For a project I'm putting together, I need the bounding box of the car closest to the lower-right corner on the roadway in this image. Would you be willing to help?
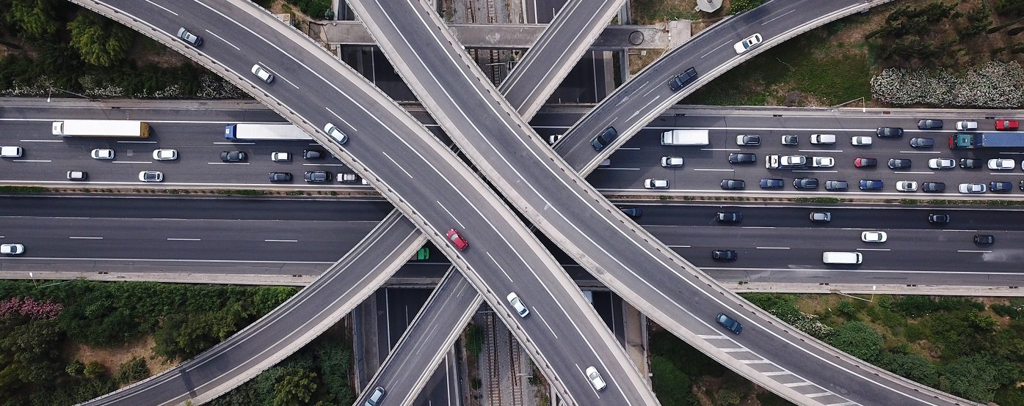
[972,234,994,246]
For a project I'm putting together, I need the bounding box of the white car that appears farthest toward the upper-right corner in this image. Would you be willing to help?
[954,119,978,131]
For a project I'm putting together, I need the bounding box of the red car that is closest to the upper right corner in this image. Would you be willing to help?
[993,118,1020,130]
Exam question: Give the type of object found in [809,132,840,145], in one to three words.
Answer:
vehicle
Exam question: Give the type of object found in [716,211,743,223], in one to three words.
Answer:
vehicle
